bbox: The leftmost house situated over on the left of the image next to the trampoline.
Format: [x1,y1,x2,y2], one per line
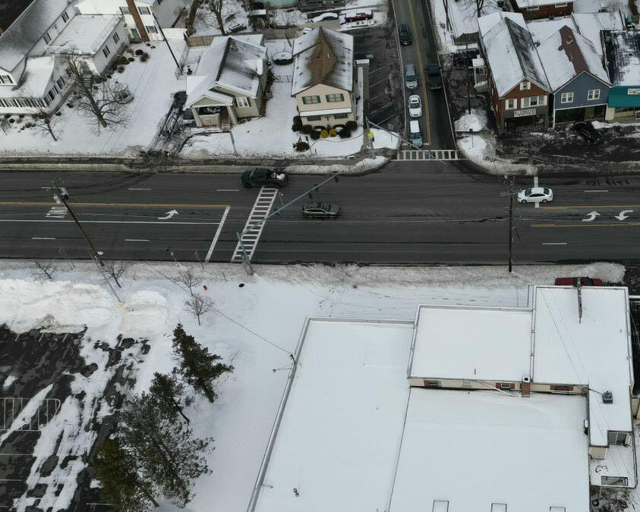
[179,34,272,129]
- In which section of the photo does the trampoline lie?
top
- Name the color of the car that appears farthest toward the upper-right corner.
black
